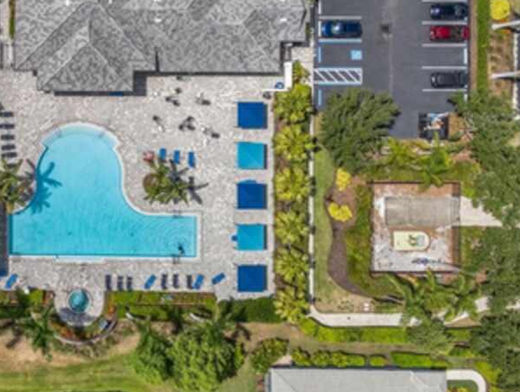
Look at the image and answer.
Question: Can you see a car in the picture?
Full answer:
Yes, there's a car here.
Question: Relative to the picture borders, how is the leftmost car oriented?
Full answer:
The leftmost car has been laid out from left to right relative to the frame.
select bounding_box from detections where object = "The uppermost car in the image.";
[427,2,465,21]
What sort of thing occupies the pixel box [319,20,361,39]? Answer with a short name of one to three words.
car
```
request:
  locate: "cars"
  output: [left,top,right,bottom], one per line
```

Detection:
[427,2,465,21]
[428,24,467,43]
[428,70,465,89]
[319,20,361,39]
